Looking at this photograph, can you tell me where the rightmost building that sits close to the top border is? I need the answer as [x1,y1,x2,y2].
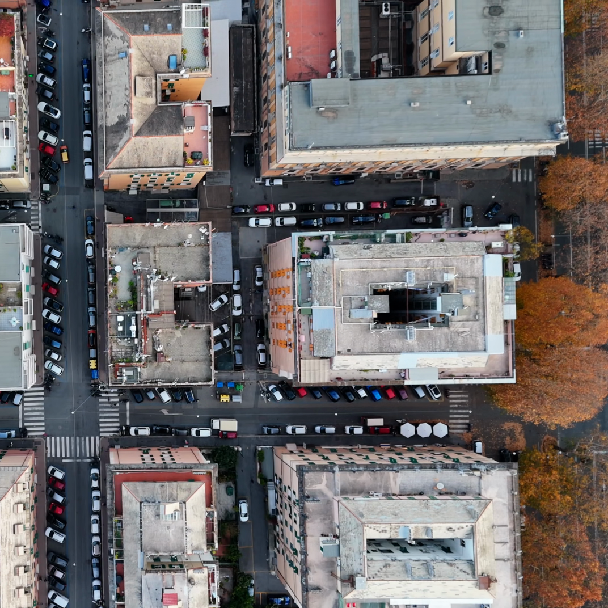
[250,0,567,174]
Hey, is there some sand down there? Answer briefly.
No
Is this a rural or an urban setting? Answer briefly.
urban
